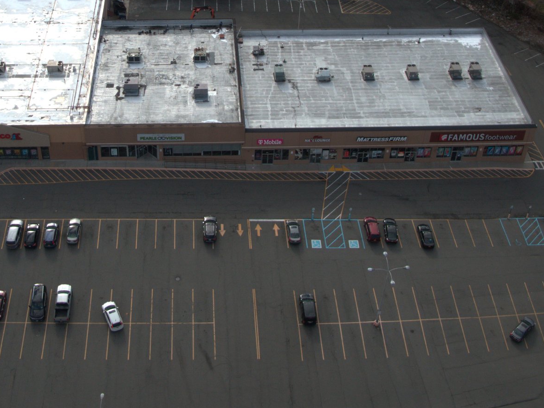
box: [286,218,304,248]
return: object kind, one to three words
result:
car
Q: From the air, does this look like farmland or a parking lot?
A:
parking lot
